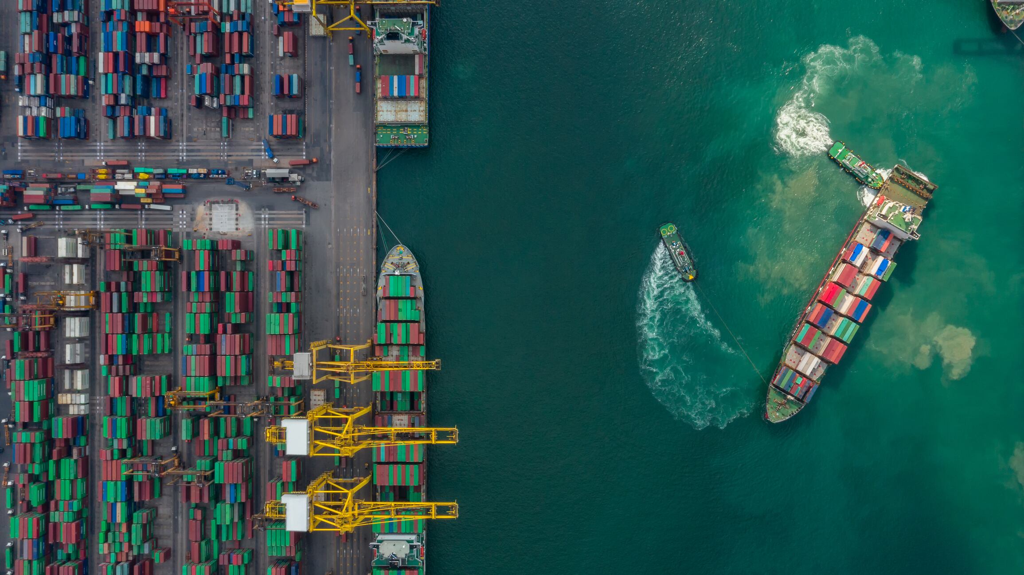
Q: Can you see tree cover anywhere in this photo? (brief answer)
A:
No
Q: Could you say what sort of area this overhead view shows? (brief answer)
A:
port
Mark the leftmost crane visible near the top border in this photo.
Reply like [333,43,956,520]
[166,0,222,34]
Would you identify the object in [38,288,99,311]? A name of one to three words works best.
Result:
crane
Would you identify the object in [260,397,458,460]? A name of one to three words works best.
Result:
container crane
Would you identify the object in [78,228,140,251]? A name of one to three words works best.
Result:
crane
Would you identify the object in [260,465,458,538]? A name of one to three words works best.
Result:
container crane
